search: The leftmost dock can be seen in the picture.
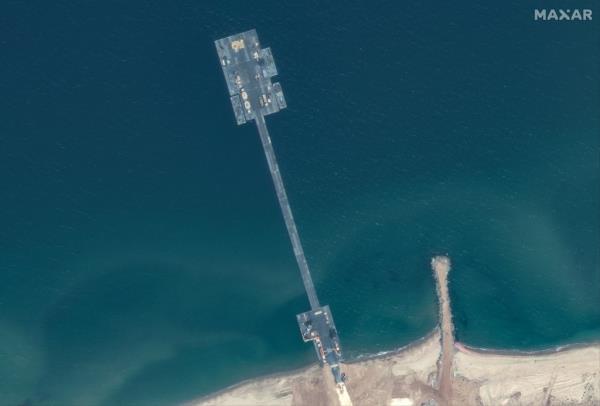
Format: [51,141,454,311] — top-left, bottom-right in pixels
[296,306,344,364]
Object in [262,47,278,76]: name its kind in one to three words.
ship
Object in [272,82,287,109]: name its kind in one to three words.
ship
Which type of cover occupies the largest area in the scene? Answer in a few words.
water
